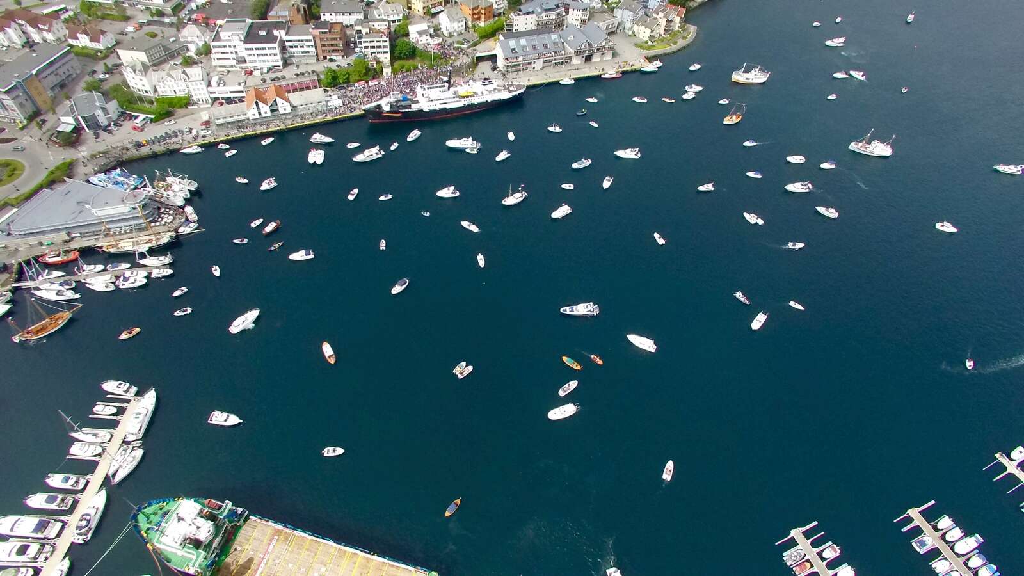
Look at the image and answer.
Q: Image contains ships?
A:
Yes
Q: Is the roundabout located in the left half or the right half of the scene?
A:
left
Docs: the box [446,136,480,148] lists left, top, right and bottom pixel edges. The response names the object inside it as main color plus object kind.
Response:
white boat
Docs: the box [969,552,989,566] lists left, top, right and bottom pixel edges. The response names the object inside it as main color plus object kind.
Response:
white boat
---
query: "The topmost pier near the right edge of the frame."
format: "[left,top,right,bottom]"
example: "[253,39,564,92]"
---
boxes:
[982,452,1024,494]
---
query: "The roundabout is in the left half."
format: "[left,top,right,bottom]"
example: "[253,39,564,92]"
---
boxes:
[0,147,52,195]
